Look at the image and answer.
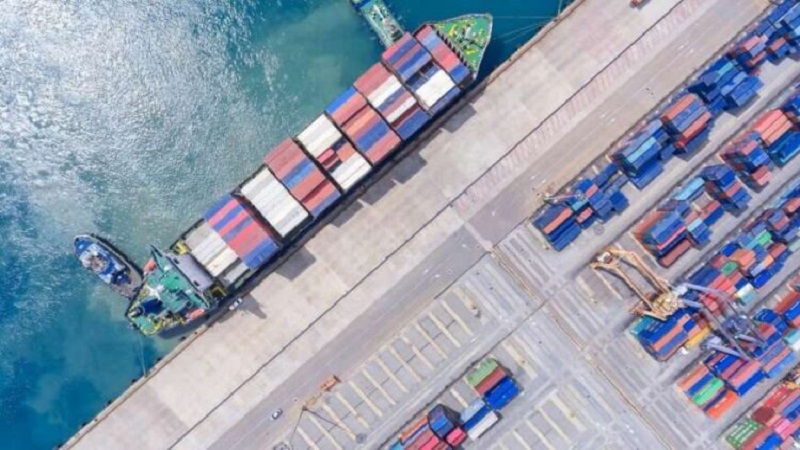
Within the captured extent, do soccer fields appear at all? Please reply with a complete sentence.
No, the frame has no soccer field in it.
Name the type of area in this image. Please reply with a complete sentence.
The picture captures a port.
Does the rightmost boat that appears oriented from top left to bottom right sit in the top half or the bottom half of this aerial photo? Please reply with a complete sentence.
You can find the rightmost boat that appears oriented from top left to bottom right in the top half.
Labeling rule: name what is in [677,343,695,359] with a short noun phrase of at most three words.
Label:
vehicle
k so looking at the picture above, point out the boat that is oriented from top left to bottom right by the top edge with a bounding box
[348,0,408,55]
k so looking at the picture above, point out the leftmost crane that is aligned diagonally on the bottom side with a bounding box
[589,246,684,327]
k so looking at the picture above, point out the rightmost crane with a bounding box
[673,281,772,363]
